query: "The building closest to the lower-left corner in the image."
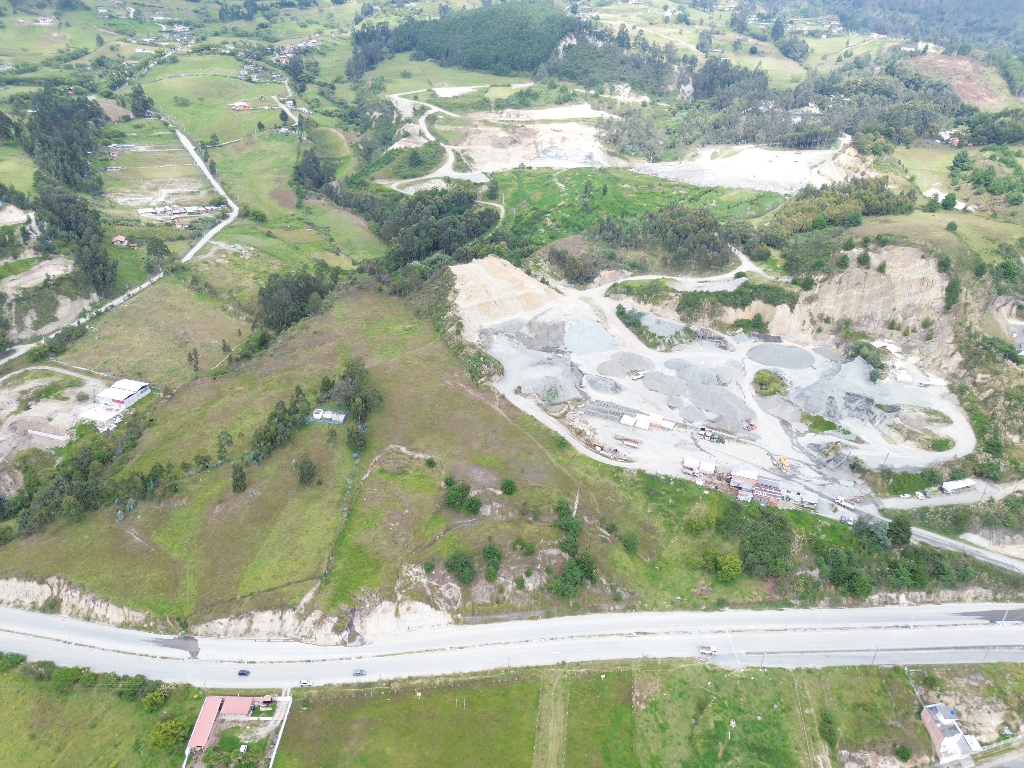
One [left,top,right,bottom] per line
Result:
[187,695,223,753]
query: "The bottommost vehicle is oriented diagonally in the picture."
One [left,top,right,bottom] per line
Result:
[236,742,250,758]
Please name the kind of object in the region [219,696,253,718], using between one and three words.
house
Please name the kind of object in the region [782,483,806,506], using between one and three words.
building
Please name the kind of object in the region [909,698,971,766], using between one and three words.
house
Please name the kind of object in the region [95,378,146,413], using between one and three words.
building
